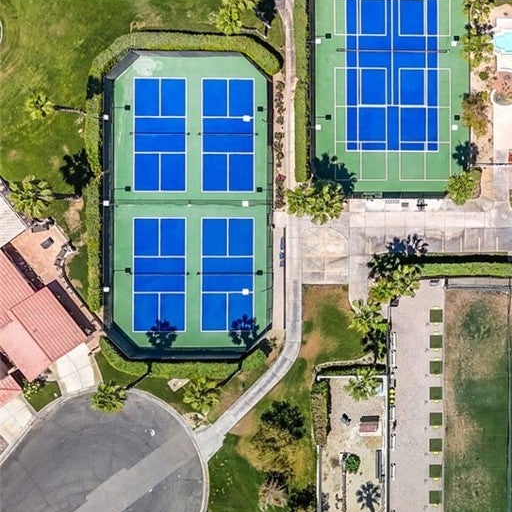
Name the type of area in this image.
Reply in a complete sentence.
The picture captures a sports ground.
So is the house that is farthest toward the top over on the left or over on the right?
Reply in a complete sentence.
You can find the house that is farthest toward the top on the left side of the picture.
